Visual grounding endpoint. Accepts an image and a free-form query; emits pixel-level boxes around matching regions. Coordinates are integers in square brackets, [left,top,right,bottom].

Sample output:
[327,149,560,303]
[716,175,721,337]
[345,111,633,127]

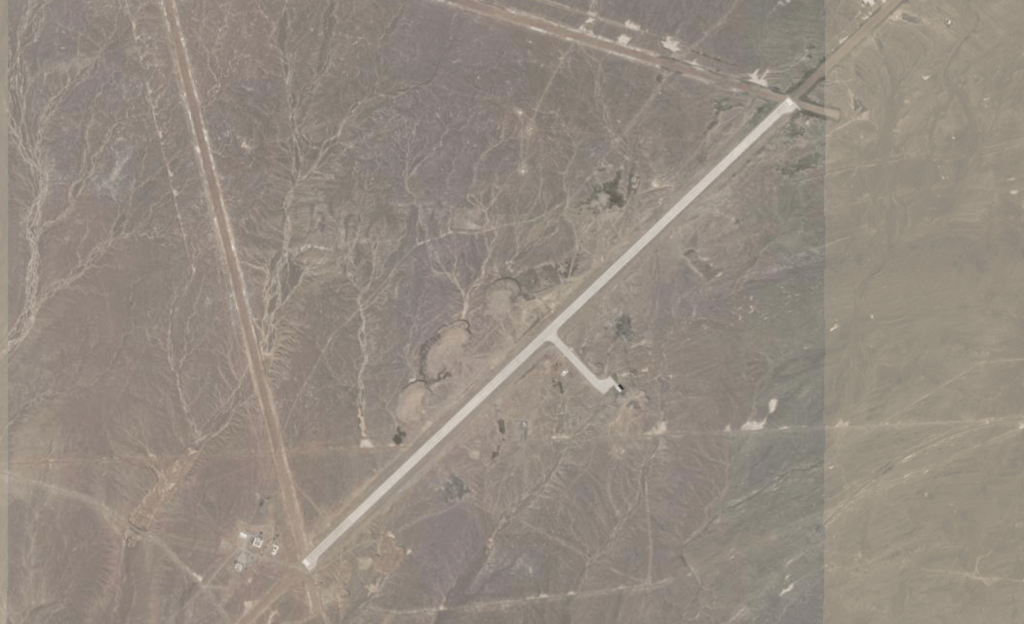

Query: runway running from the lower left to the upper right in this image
[303,99,801,570]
